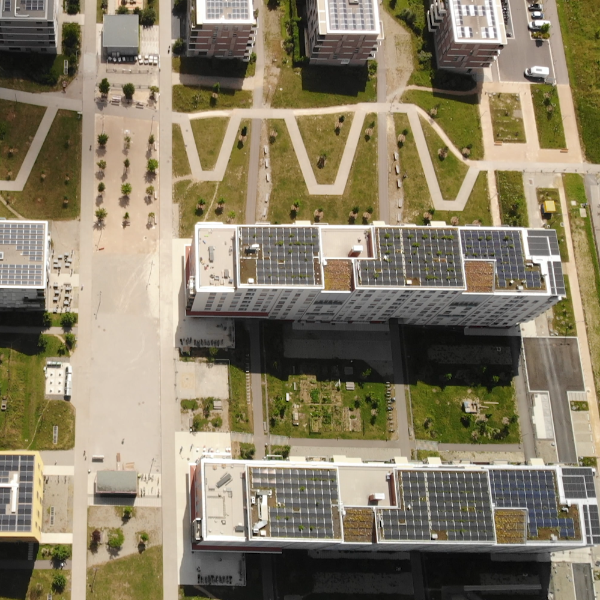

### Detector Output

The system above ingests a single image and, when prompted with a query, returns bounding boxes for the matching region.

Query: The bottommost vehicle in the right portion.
[526,64,553,78]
